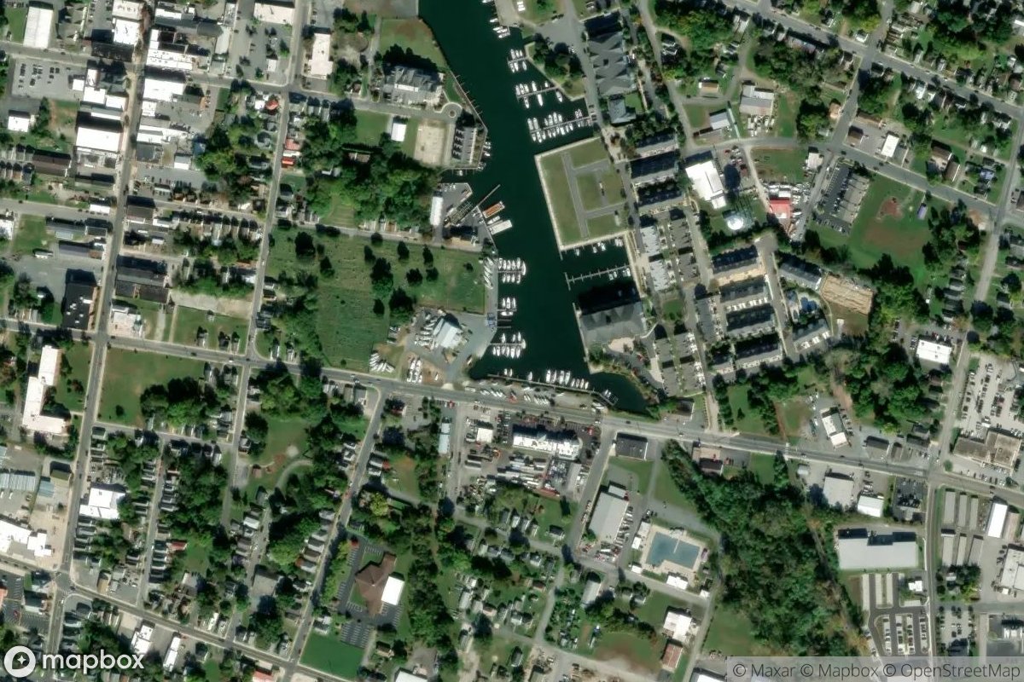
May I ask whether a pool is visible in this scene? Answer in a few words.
Yes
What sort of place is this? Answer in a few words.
residential area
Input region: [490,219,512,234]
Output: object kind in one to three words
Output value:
ship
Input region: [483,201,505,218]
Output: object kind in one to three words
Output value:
ship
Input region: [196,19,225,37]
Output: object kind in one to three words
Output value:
house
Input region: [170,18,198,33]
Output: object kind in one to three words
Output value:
building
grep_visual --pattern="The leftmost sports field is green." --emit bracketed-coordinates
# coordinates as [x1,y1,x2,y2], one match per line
[299,632,364,679]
